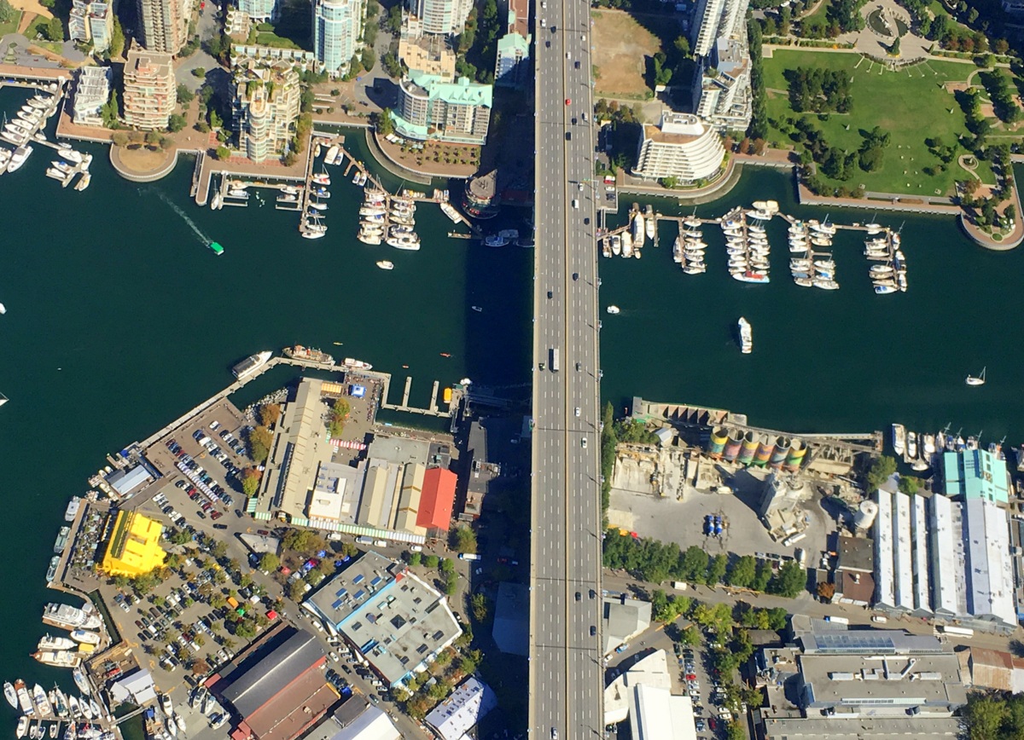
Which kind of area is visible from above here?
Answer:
port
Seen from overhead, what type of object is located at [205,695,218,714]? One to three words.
boat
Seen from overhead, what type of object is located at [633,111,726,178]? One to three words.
building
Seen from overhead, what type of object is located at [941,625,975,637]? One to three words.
vehicle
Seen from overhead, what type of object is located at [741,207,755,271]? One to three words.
pier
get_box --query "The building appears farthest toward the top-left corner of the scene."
[68,0,112,49]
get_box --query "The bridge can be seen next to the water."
[528,0,604,740]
